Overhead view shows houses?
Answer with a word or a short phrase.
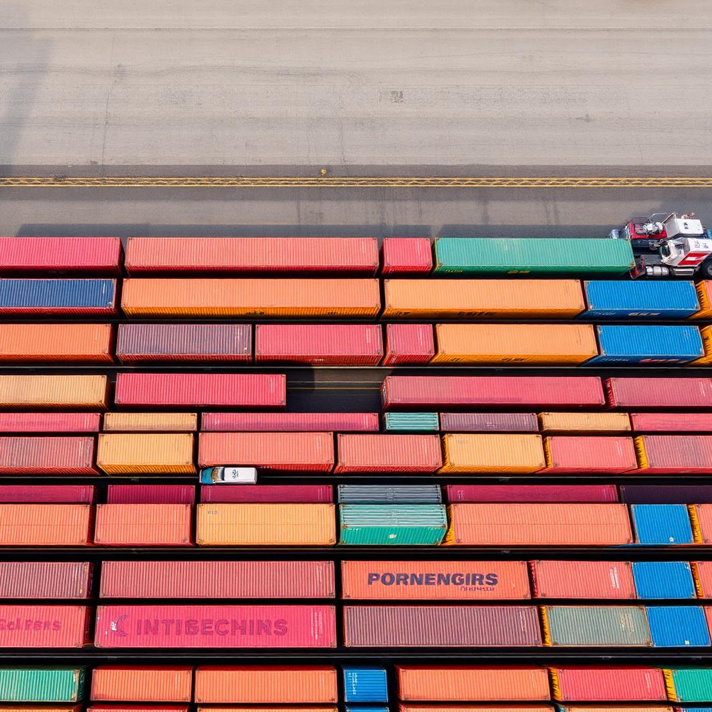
No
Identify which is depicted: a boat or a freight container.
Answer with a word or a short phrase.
freight container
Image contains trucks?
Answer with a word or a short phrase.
Yes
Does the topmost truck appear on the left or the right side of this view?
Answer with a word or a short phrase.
right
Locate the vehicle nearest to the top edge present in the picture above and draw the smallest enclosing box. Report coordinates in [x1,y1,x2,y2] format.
[608,207,712,248]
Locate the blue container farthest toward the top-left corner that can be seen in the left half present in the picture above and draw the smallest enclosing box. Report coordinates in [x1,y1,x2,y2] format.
[0,280,123,318]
